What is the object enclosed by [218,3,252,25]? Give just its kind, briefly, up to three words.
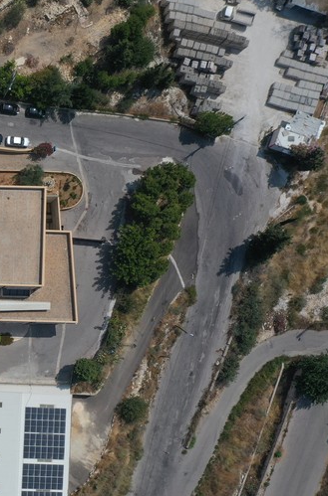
truck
